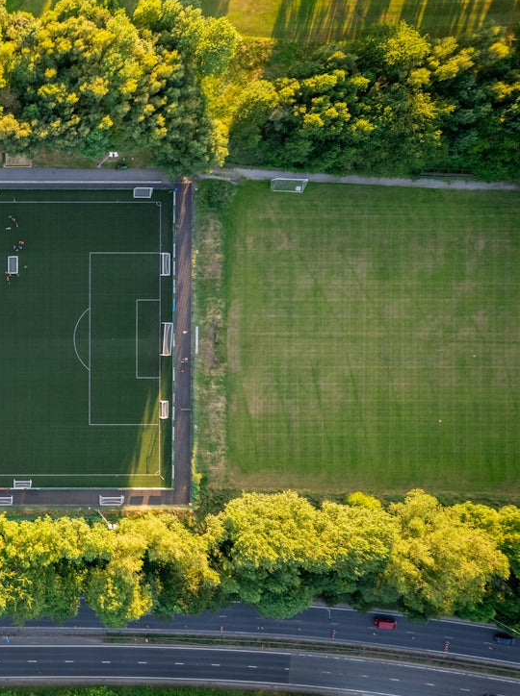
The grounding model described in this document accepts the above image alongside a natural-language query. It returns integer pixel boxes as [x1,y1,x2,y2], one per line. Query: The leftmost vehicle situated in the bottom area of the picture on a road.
[376,619,397,632]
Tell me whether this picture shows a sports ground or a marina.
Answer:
sports ground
